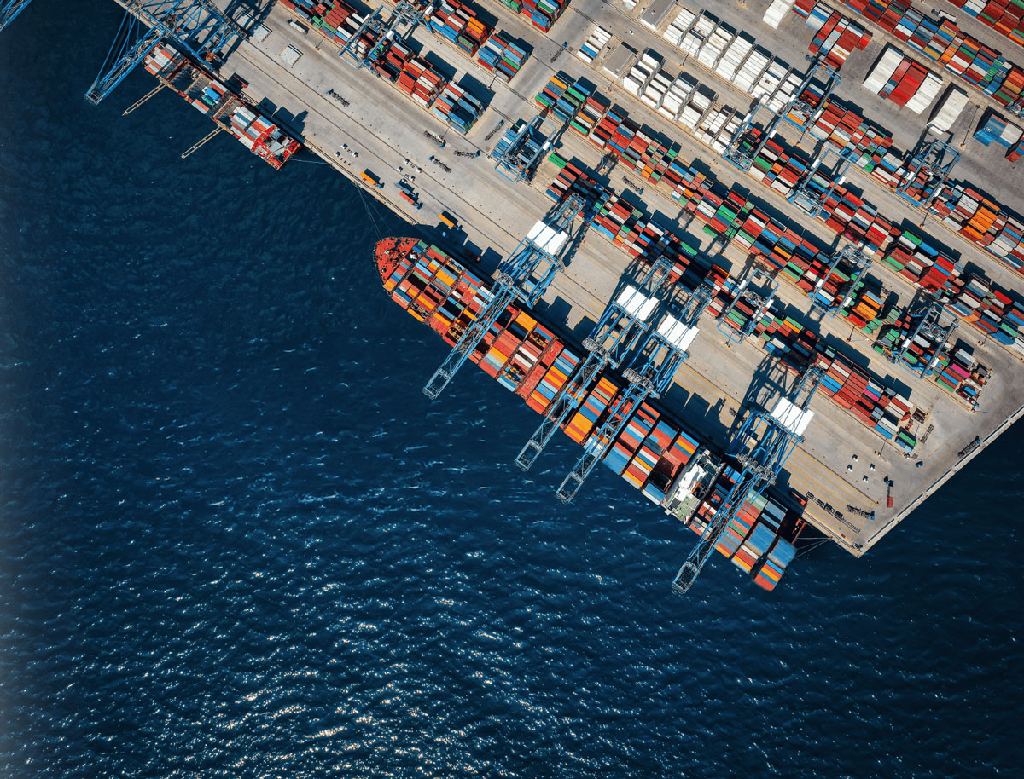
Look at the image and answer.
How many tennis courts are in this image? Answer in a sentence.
I count no tennis courts.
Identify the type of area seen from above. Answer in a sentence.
It's a port.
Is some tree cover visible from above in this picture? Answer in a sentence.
No, there is no tree cover in the image.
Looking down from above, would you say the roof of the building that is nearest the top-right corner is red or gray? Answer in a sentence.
The color of the roof of the building that is nearest the top-right corner is gray.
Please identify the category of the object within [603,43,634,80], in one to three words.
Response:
building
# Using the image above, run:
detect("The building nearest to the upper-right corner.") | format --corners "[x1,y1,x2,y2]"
[640,0,676,30]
